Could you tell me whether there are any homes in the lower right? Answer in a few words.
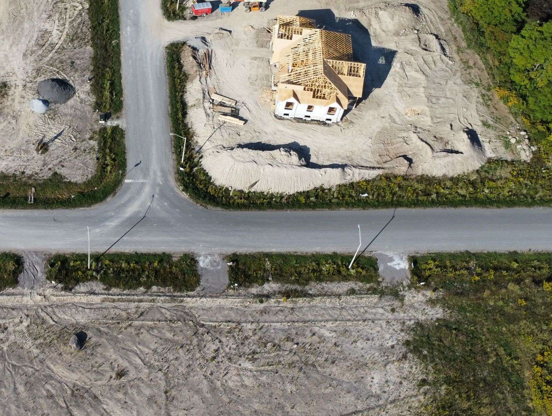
No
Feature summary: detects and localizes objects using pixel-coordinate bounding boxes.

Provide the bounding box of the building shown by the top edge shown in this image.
[269,16,368,122]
